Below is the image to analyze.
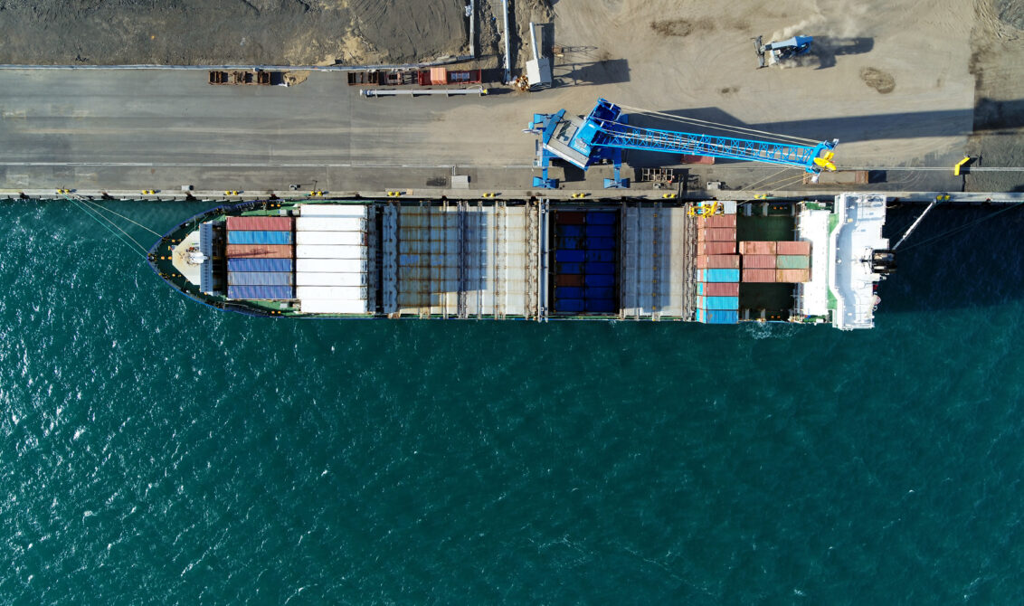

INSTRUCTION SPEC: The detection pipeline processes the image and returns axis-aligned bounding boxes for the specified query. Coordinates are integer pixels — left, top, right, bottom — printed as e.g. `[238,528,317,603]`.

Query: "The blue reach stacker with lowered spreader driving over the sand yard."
[758,29,817,68]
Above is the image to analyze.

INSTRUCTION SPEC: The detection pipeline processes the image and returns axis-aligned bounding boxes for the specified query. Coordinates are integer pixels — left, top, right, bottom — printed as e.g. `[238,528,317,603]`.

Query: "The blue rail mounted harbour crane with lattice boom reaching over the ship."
[530,93,844,212]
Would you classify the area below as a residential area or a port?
port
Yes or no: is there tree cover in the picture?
No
